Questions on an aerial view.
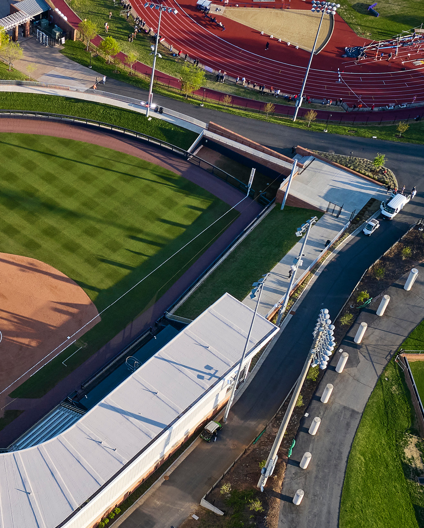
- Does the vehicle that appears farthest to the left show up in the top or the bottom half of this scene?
bottom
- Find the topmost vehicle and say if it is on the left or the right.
right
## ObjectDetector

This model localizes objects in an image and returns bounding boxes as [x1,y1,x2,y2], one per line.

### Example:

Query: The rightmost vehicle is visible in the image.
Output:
[385,183,418,216]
